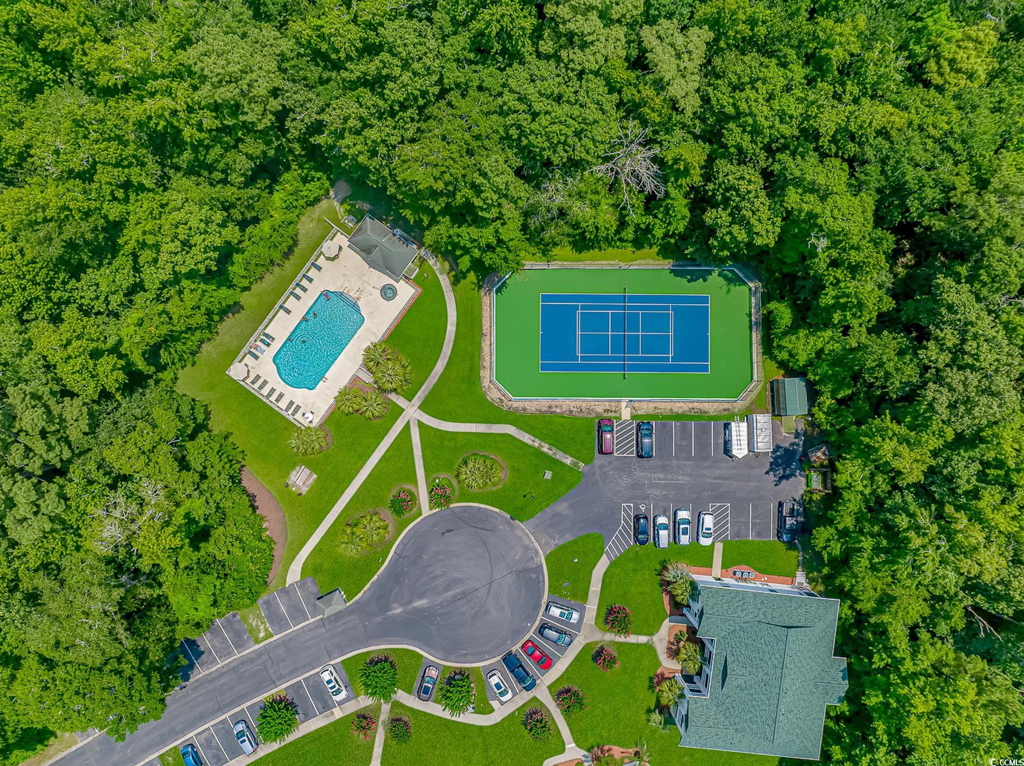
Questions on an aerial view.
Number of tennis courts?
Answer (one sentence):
My tally gives 1 tennis court in this photo.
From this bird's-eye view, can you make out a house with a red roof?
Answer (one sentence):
No, this view has no house with a red roof in it.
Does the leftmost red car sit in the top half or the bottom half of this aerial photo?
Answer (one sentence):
The bottom half of the photo is where the leftmost red car is.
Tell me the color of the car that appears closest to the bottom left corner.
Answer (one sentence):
From above, the car that appears closest to the bottom left corner appears blue.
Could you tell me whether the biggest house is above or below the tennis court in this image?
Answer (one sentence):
Relative to the tennis court, the biggest house lies below it.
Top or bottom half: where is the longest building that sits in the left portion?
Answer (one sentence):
You can find the longest building that sits in the left portion in the top half.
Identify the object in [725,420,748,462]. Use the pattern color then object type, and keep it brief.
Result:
white trailer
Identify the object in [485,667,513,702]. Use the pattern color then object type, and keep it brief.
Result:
white car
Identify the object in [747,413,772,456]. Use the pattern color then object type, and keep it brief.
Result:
white trailer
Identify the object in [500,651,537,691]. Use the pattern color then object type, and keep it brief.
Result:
blue truck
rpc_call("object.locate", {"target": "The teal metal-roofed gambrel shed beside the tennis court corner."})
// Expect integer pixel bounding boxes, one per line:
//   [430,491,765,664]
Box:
[771,378,806,430]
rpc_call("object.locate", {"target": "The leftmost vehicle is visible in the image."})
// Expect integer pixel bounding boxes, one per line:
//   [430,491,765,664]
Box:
[179,739,205,766]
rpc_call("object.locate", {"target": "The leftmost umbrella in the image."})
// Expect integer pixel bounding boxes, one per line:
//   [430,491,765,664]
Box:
[229,363,247,380]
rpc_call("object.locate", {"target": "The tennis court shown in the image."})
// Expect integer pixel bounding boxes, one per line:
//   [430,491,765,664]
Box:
[495,268,755,399]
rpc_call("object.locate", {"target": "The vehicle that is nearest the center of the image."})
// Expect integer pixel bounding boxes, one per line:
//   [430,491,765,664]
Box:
[597,418,613,455]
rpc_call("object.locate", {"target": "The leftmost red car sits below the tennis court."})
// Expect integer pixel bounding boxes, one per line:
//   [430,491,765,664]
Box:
[520,639,554,669]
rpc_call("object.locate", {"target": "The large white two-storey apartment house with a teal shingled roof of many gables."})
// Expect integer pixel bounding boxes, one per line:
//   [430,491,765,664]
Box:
[671,576,849,762]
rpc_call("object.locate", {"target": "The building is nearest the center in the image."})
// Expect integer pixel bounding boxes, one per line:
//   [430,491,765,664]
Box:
[348,214,419,279]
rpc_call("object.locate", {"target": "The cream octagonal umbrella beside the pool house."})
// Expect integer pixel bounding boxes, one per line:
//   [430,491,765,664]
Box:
[322,240,339,257]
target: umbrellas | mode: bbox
[322,240,339,257]
[229,363,247,380]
